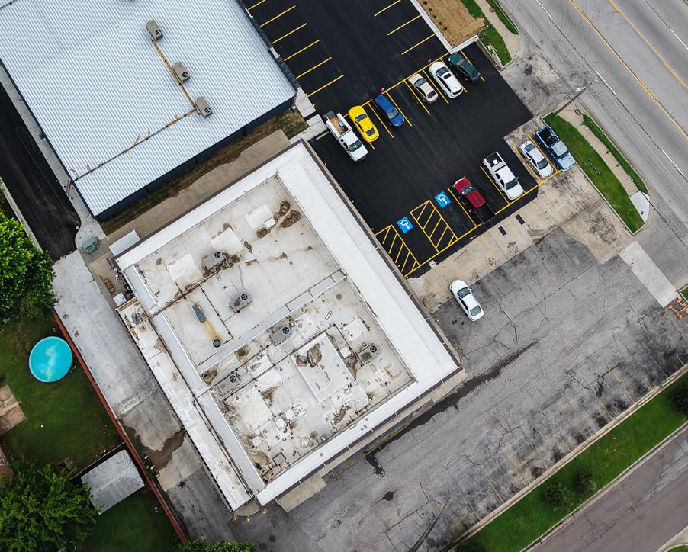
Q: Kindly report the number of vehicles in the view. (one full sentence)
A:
My tally gives 11 vehicles in this view.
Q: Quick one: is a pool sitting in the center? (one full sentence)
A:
No, I can find no pool in the center.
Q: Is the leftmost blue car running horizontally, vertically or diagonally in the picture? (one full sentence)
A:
I'd say the leftmost blue car is aligned diagonally in the picture.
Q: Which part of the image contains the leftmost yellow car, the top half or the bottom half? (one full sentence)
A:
The leftmost yellow car is in the top half of the image.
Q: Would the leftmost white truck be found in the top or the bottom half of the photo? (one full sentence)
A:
The leftmost white truck sits in the top half of the picture.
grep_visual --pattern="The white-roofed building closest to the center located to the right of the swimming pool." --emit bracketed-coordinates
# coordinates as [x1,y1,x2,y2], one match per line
[106,132,469,517]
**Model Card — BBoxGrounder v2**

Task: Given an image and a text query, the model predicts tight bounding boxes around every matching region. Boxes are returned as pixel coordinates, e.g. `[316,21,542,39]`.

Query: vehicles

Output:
[452,176,496,227]
[451,278,486,323]
[481,151,523,200]
[428,62,464,99]
[446,50,484,87]
[374,92,405,128]
[519,138,554,179]
[405,72,441,106]
[533,124,576,170]
[326,112,367,161]
[349,105,380,143]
